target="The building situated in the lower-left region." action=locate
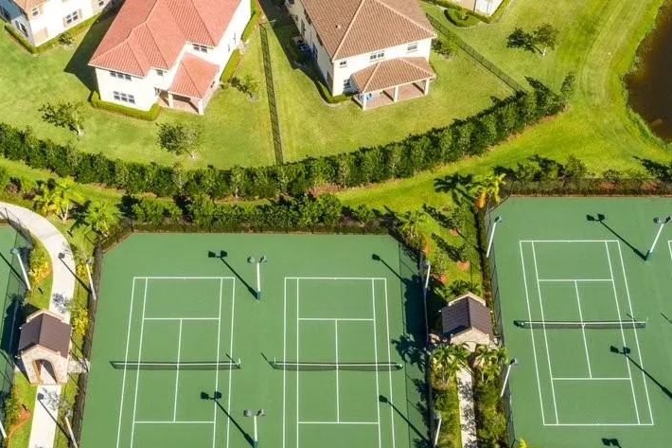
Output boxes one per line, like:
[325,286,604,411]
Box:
[15,307,79,382]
